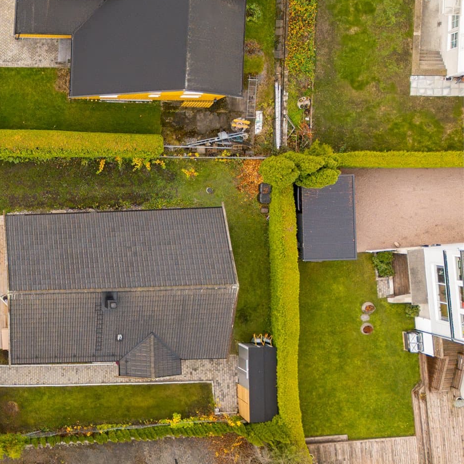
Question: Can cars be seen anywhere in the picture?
No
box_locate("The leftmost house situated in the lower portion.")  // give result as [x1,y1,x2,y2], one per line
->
[4,206,240,380]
